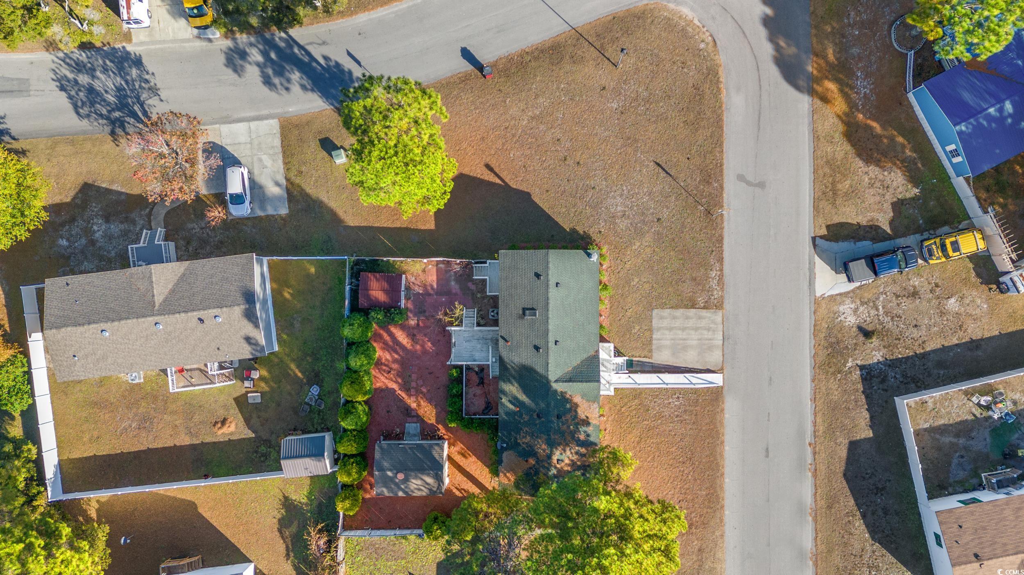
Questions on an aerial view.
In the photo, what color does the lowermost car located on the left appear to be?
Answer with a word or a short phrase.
white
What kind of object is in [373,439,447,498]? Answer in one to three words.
shed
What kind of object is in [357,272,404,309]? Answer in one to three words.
shed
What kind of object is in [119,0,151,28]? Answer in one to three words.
van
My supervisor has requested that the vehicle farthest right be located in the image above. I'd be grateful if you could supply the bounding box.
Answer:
[999,266,1024,297]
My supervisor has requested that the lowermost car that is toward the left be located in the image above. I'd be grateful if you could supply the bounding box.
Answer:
[223,163,251,215]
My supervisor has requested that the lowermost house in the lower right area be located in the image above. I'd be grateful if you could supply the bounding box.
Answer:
[917,482,1024,575]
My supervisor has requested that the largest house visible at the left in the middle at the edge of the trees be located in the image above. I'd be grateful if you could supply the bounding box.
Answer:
[43,252,280,383]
